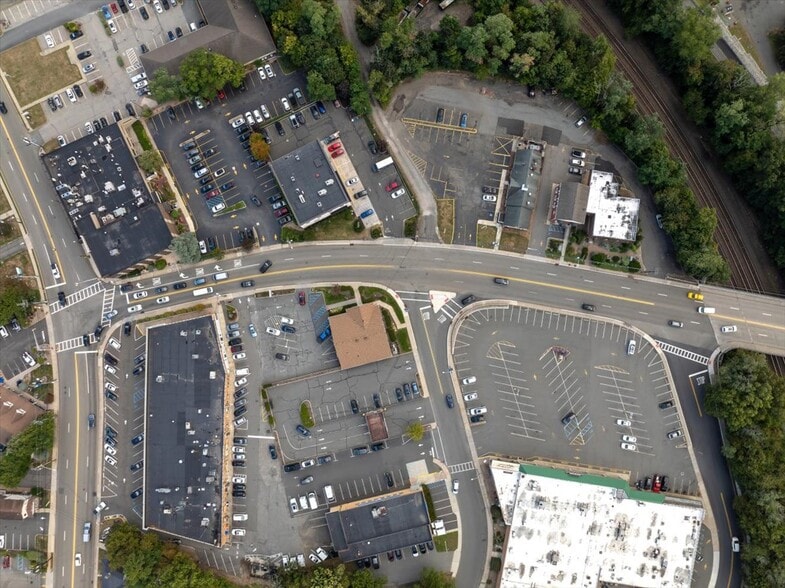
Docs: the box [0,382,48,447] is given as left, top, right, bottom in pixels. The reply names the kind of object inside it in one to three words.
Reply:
building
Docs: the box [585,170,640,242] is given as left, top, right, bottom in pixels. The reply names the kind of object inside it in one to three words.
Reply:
building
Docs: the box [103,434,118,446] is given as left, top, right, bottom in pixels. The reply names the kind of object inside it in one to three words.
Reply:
vehicle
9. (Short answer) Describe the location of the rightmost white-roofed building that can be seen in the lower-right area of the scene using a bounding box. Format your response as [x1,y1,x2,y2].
[488,460,703,588]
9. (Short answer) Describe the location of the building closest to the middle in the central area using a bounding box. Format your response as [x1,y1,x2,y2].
[329,303,392,370]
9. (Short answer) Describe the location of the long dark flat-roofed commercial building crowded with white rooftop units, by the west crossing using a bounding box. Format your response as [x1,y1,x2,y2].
[41,122,179,278]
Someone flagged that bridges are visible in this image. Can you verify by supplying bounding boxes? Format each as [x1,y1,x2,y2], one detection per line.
[690,280,785,356]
